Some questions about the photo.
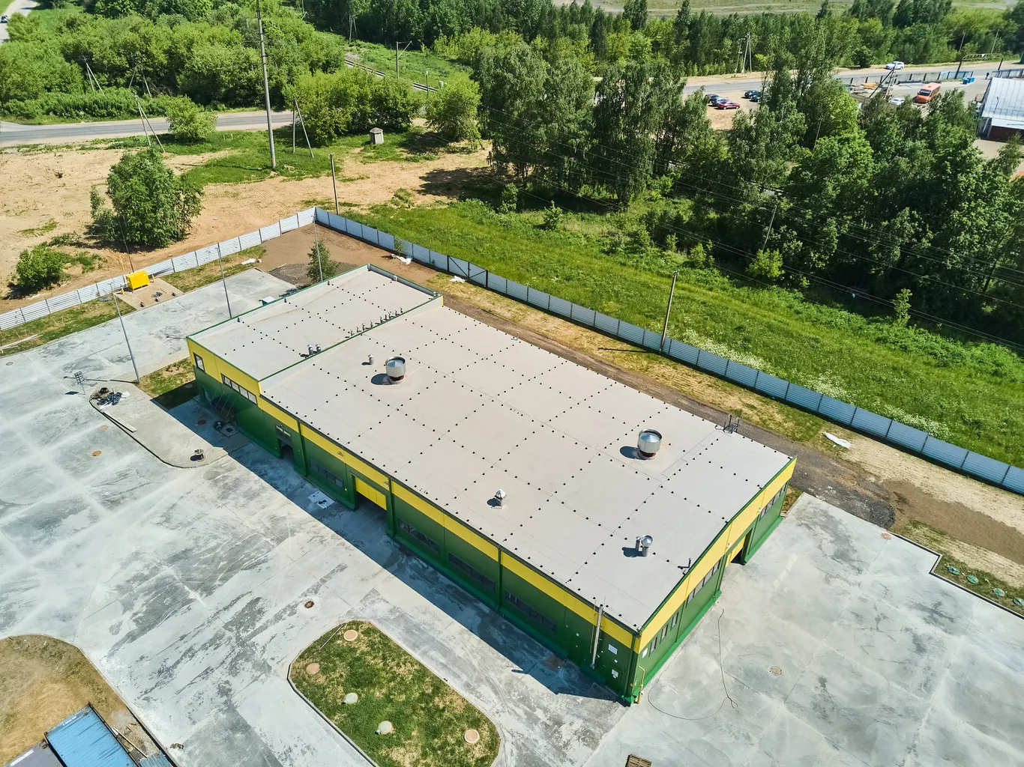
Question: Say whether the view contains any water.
No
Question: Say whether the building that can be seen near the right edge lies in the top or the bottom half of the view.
top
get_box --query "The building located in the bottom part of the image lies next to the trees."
[183,265,800,708]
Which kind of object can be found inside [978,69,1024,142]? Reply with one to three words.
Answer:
building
